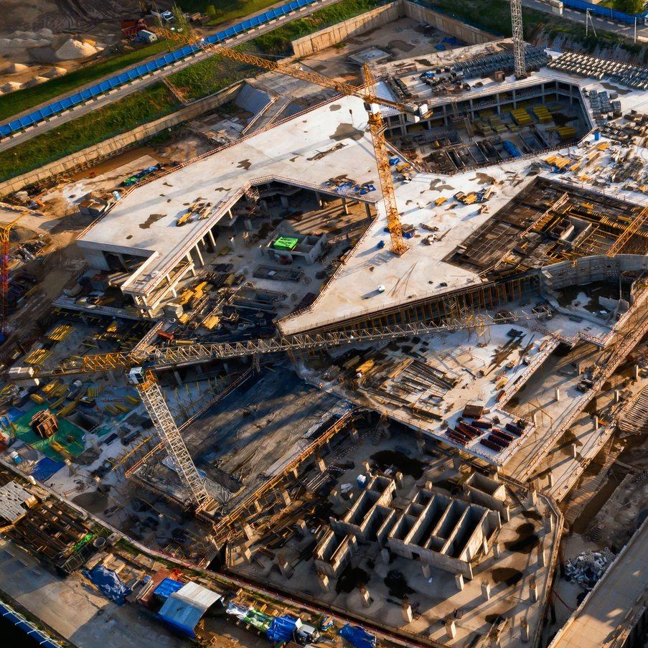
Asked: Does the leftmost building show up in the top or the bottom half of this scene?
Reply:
bottom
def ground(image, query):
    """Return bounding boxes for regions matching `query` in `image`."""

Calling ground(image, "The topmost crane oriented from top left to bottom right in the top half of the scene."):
[156,26,422,258]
